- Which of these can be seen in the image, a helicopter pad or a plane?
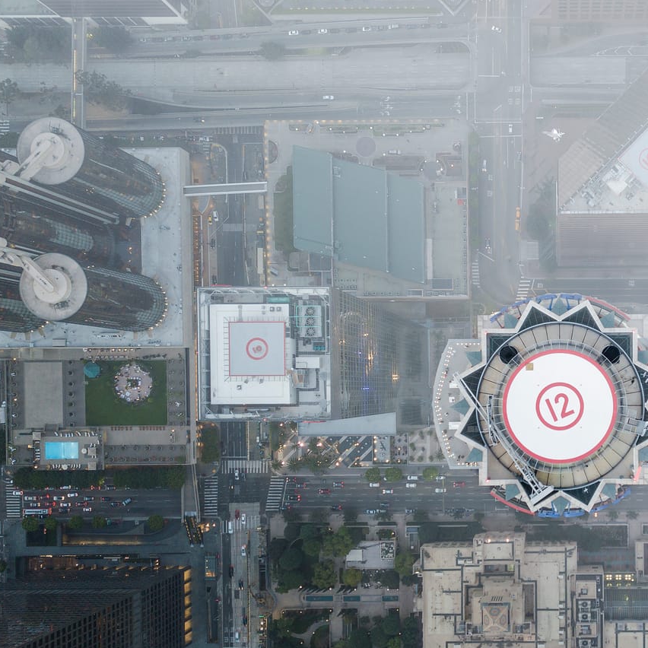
helicopter pad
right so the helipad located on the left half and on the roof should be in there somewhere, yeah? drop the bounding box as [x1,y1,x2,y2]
[225,319,289,380]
